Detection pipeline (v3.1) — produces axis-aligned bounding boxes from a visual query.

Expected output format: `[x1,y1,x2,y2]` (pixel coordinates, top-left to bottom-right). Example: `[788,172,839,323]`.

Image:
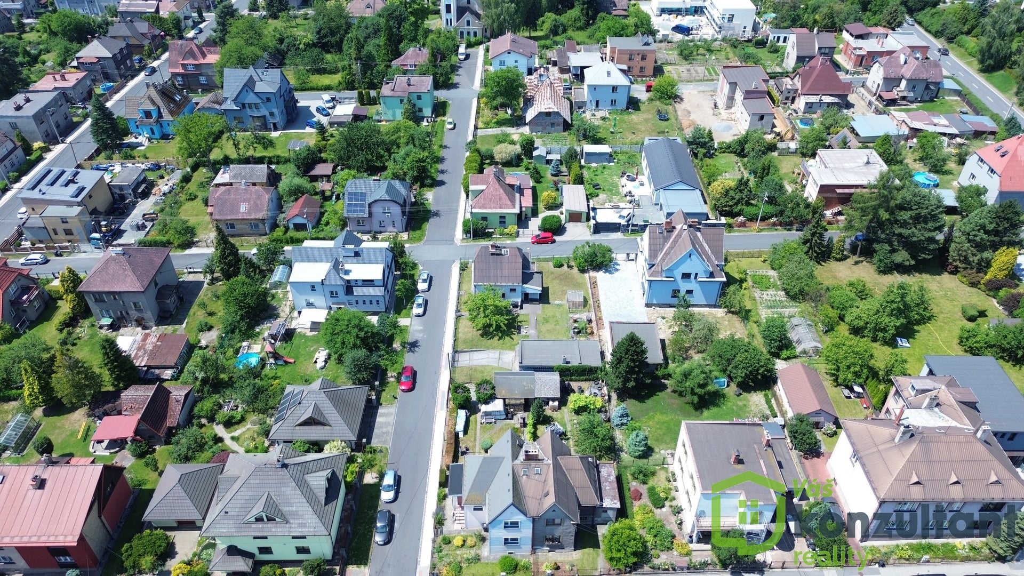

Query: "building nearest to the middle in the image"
[474,243,543,307]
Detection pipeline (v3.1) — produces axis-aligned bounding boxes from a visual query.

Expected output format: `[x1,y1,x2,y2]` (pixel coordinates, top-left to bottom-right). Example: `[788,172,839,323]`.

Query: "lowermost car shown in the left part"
[370,505,393,545]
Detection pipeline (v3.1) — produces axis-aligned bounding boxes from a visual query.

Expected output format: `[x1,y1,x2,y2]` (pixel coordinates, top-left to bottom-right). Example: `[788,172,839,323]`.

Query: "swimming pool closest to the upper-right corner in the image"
[909,173,941,187]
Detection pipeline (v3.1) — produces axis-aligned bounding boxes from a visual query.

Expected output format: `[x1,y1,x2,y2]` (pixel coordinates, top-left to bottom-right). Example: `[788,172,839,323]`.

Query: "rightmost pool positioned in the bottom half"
[234,355,262,377]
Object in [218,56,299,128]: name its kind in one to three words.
house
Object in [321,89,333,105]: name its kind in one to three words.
vehicle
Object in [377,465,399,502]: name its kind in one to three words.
car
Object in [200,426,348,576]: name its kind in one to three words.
building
